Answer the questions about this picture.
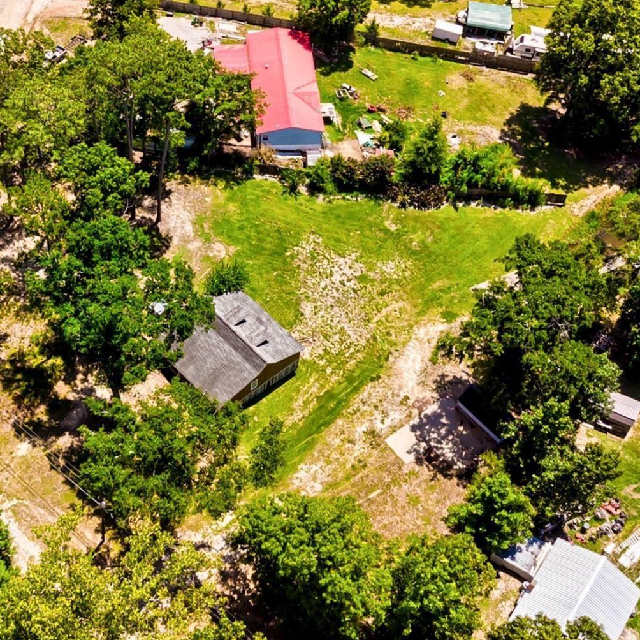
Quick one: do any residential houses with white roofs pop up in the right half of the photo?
Yes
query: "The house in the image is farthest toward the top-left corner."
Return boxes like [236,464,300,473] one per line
[214,26,334,151]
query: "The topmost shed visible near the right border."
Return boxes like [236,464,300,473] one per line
[611,395,640,431]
